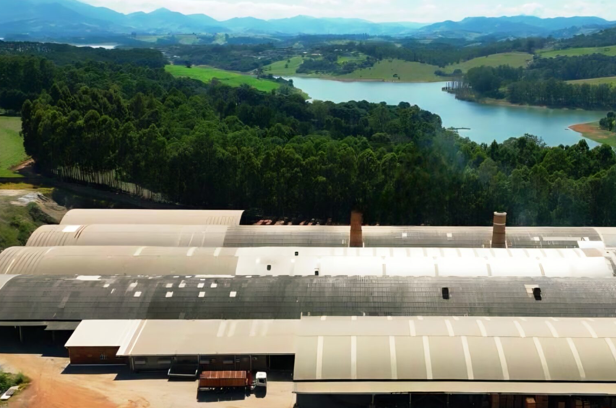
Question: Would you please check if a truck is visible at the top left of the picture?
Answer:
No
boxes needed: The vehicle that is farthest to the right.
[197,371,268,396]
